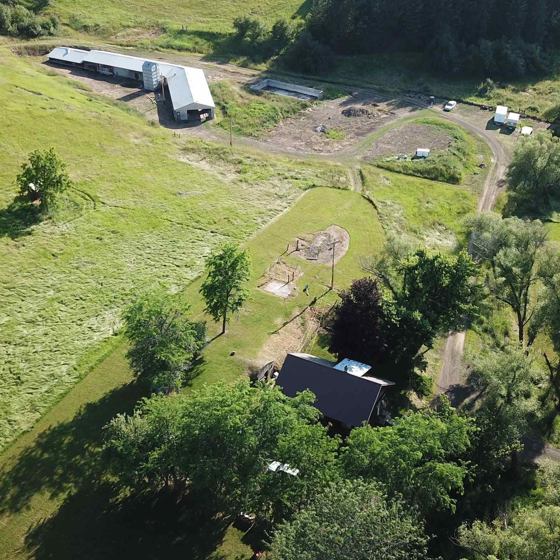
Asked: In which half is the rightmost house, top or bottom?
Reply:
bottom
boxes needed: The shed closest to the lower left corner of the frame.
[249,353,279,388]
